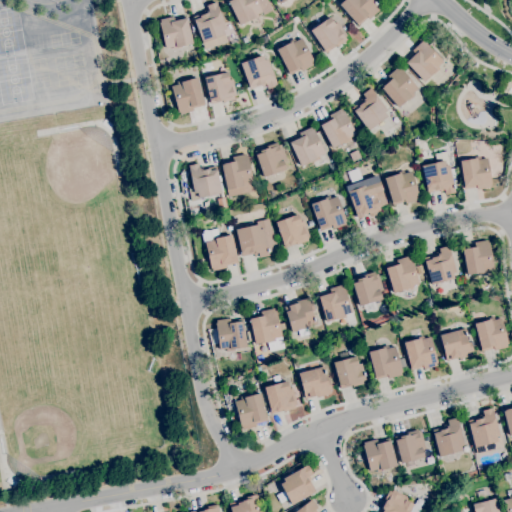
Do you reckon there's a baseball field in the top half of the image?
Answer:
Yes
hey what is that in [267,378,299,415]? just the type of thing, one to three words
house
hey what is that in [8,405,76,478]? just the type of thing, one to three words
baseball field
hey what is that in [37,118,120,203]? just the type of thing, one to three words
baseball field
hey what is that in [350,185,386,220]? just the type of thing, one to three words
house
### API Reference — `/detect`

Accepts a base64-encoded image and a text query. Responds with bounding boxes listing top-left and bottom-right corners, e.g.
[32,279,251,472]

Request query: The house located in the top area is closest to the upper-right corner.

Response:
[408,40,448,81]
